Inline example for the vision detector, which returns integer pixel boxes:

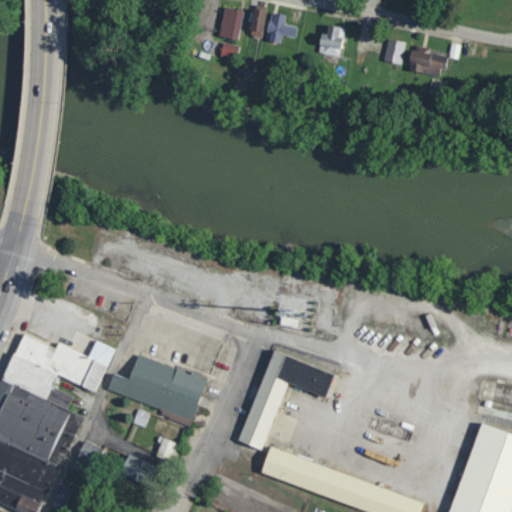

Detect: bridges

[0,0,68,232]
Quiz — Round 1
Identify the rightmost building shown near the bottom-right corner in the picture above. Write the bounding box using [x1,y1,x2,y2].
[447,423,512,512]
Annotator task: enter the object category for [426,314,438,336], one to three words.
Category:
vehicle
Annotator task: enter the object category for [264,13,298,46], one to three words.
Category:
house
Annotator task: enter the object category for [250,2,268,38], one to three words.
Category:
house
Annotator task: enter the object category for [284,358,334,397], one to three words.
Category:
building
